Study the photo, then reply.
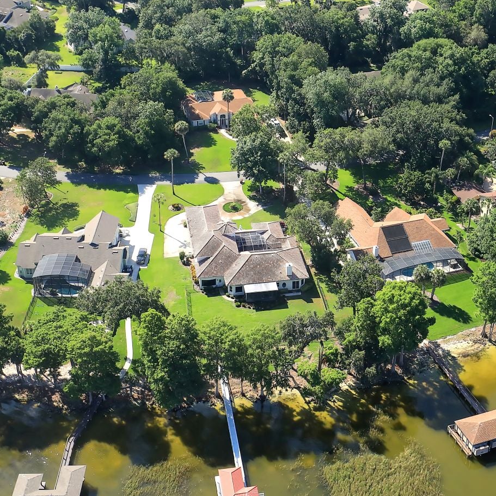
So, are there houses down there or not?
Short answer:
Yes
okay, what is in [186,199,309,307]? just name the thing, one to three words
house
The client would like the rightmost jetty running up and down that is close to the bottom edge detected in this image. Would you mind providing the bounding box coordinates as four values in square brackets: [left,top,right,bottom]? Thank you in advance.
[217,377,251,486]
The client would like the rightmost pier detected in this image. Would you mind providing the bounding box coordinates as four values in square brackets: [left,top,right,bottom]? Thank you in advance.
[420,338,492,414]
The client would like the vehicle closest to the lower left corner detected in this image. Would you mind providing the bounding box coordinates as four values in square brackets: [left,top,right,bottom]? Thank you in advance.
[136,245,149,262]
